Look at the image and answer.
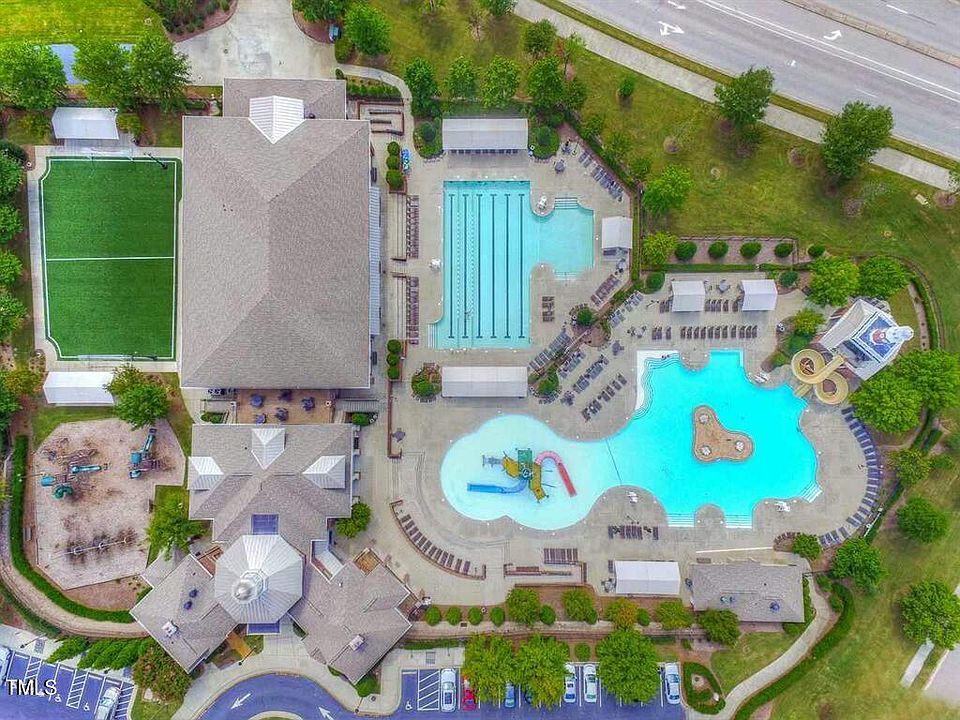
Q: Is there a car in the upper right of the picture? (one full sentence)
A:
No, in the upper right of the picture there is no car.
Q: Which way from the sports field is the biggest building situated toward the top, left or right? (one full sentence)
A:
The biggest building situated toward the top appears to the right of the sports field in this view.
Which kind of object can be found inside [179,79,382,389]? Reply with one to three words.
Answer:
building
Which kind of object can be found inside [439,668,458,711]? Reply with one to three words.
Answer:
car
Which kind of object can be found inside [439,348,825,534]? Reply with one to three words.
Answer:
swimming pool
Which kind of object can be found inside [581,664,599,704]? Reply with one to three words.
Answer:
car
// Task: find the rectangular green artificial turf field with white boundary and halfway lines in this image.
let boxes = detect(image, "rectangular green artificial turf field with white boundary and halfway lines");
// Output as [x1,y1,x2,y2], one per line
[39,157,180,359]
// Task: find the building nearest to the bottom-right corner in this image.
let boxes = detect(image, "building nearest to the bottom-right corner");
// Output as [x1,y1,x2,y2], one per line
[687,562,809,622]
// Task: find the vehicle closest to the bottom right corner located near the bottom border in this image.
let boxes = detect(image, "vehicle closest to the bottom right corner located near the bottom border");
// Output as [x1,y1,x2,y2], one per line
[663,663,682,705]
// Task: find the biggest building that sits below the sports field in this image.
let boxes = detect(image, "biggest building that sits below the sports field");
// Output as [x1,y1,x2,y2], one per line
[129,423,412,685]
